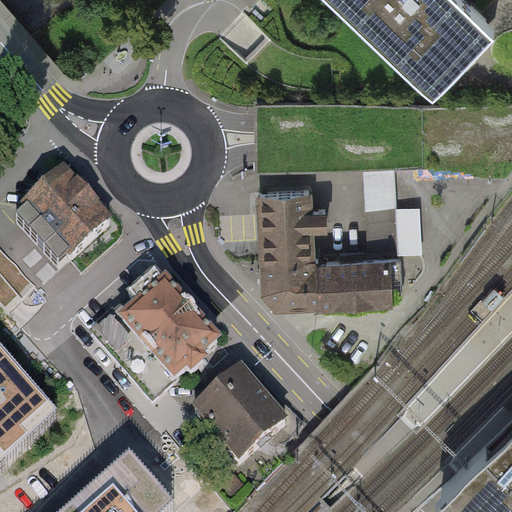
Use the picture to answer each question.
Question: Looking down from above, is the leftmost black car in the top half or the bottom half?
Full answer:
It is in the bottom half that the leftmost black car appears.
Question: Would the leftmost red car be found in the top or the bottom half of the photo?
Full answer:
The leftmost red car is in the bottom half of the image.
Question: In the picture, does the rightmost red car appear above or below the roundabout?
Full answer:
It's below the roundabout that the rightmost red car shows up.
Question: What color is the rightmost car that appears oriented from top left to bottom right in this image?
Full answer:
The color of the rightmost car that appears oriented from top left to bottom right is black.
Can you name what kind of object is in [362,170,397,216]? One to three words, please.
shed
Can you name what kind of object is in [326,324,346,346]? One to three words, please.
car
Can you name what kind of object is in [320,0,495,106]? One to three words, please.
building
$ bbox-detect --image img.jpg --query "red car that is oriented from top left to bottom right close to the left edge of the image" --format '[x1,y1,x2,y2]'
[12,486,34,510]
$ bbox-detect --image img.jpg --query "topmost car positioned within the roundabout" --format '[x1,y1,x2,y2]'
[120,115,138,135]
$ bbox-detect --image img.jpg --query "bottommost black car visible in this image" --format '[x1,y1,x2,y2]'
[38,466,60,488]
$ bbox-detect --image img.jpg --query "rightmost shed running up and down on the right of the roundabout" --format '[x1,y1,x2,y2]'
[397,208,423,261]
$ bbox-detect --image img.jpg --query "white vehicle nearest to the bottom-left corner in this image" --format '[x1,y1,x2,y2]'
[26,474,50,499]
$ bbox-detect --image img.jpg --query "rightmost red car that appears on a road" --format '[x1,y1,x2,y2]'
[116,396,136,417]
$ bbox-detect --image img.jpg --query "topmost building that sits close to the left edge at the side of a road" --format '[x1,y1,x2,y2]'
[16,160,112,264]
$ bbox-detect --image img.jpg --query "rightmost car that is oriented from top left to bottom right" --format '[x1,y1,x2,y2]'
[253,338,274,360]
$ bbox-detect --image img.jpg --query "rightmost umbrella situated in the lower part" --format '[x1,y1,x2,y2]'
[131,359,145,372]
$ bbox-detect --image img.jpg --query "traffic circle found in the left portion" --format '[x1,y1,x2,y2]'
[60,86,254,254]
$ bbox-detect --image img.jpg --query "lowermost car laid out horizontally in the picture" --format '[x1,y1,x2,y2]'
[169,385,193,397]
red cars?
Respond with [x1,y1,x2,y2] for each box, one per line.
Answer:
[116,396,136,417]
[12,486,34,510]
